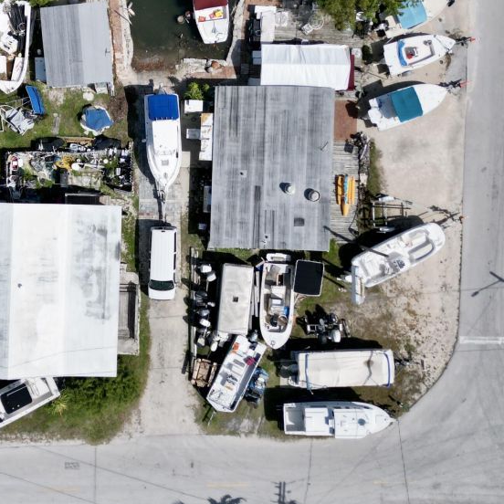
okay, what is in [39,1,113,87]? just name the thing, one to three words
shed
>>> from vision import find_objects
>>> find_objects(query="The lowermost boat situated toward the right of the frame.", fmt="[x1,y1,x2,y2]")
[280,400,403,443]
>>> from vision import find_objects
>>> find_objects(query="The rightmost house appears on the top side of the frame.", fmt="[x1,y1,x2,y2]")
[209,86,335,251]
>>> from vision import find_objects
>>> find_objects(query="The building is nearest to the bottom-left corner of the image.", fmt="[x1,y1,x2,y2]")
[0,203,121,381]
